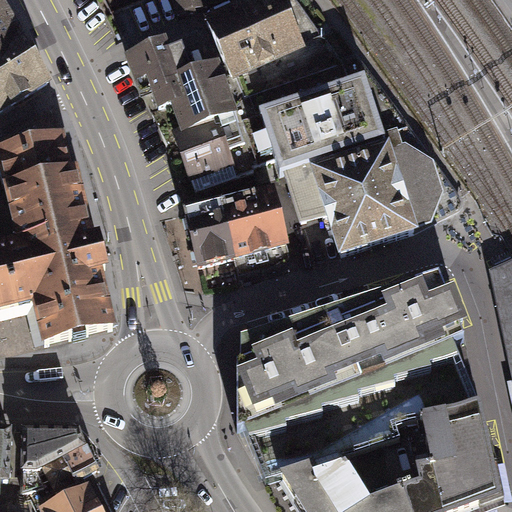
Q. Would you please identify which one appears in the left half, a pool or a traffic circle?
traffic circle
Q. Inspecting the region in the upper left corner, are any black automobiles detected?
Yes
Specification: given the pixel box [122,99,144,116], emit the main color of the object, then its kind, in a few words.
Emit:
black car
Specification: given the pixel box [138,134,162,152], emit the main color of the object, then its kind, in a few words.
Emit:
black car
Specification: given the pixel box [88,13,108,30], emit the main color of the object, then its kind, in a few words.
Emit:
white car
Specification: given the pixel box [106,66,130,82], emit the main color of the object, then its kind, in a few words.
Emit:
white car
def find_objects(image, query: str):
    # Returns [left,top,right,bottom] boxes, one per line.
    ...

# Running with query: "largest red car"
[112,77,134,92]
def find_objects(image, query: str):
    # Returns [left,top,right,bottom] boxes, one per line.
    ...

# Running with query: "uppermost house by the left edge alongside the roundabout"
[0,151,114,350]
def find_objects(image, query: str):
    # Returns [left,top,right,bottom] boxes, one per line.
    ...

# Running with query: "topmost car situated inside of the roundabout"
[180,344,193,365]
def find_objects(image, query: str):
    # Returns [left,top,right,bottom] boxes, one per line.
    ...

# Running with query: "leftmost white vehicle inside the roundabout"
[104,415,126,429]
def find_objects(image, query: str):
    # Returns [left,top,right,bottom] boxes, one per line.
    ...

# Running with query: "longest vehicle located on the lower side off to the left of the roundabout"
[24,366,66,384]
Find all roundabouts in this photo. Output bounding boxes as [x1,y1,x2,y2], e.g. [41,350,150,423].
[94,330,221,456]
